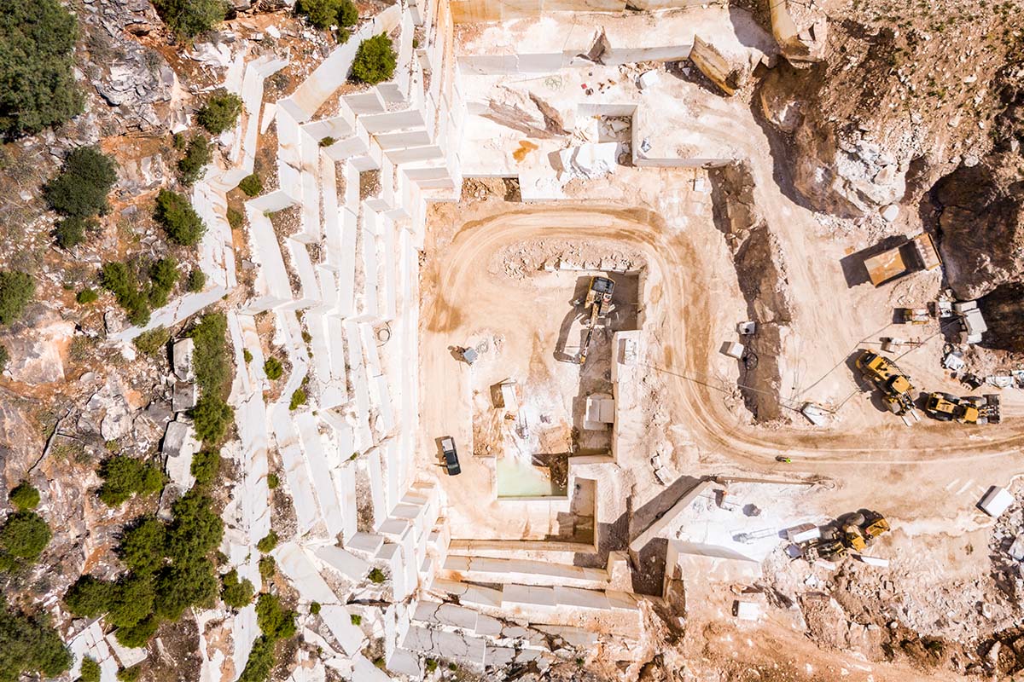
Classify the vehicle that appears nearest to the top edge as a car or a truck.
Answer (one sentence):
The vehicle that appears nearest to the top edge can be classified as a truck.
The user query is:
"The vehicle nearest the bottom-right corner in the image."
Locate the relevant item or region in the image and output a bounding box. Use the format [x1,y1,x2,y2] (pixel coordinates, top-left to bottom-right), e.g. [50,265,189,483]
[798,513,883,557]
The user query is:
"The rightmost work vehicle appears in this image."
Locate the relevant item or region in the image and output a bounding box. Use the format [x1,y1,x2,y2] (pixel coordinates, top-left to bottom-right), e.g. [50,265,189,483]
[926,394,999,429]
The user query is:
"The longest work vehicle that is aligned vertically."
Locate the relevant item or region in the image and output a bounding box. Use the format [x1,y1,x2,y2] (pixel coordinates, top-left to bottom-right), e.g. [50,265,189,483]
[582,273,617,358]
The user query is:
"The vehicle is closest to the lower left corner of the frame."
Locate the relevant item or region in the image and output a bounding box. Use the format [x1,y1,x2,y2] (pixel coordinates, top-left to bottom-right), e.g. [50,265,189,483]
[438,437,460,478]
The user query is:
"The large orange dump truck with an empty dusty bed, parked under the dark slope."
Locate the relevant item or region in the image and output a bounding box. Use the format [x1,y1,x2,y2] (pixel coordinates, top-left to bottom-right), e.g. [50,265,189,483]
[857,234,939,287]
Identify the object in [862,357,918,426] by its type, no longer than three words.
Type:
work vehicle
